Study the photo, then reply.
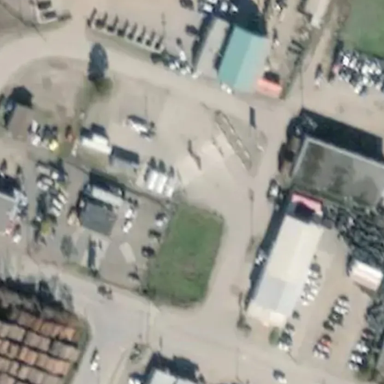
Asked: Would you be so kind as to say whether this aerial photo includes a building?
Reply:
Yes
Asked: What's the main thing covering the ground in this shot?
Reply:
paved ground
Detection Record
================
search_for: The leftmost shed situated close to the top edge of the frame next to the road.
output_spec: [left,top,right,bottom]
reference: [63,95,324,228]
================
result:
[191,17,231,80]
